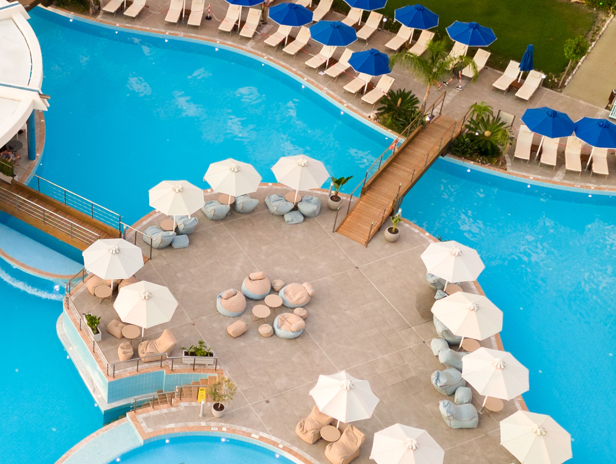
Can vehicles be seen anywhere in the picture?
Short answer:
No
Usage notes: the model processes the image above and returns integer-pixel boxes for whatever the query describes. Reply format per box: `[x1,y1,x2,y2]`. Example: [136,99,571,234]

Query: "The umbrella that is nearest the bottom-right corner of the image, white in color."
[495,414,568,464]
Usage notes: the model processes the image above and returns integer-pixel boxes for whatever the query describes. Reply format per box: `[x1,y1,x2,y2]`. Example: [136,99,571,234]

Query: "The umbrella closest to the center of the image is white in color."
[273,156,329,211]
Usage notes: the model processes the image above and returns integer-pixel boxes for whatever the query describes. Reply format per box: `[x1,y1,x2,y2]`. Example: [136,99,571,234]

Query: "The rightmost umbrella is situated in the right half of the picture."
[574,118,616,170]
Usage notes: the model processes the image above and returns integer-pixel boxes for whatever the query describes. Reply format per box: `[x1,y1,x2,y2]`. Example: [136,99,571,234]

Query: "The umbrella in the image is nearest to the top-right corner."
[514,45,533,92]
